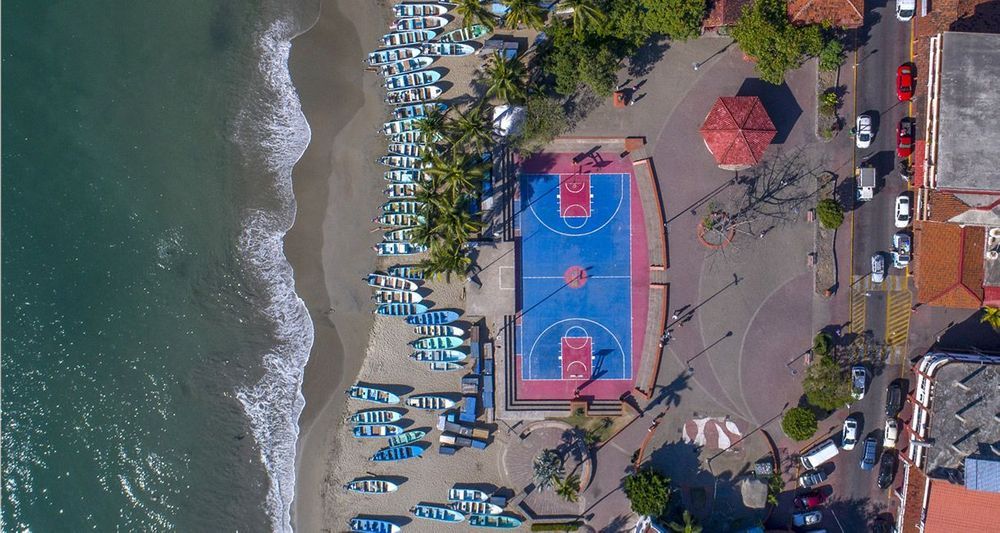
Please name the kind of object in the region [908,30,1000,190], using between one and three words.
building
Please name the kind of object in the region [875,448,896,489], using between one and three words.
car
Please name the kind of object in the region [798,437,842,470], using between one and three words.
van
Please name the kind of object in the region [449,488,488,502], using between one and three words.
boat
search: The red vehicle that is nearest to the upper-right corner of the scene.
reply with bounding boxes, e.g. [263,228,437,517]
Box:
[895,65,915,102]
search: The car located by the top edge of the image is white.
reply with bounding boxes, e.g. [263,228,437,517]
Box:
[896,0,917,23]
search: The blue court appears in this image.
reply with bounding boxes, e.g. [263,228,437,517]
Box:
[512,152,650,401]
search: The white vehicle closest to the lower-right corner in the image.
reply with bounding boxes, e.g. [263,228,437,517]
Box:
[882,417,898,448]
